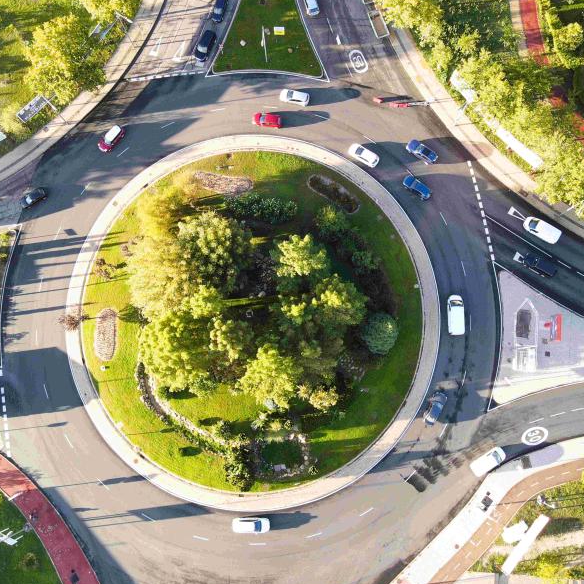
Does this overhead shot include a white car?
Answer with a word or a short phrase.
Yes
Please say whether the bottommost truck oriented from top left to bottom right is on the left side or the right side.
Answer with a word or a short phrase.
right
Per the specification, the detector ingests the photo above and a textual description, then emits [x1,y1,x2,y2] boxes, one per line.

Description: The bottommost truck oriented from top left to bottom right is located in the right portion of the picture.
[520,247,563,281]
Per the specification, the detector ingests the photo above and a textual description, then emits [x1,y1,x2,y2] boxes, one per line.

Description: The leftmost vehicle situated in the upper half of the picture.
[19,183,54,211]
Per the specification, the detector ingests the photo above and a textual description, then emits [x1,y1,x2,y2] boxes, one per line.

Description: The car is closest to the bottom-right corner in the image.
[470,444,507,476]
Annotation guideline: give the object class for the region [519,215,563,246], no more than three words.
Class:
car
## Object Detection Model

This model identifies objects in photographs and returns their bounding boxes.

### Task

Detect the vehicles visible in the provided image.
[519,215,563,246]
[97,123,127,155]
[251,112,284,130]
[346,141,383,170]
[470,444,507,476]
[19,183,54,211]
[398,172,434,202]
[276,87,312,107]
[191,27,221,66]
[209,0,232,27]
[520,247,563,281]
[421,388,448,426]
[445,293,466,335]
[402,138,441,167]
[232,513,271,534]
